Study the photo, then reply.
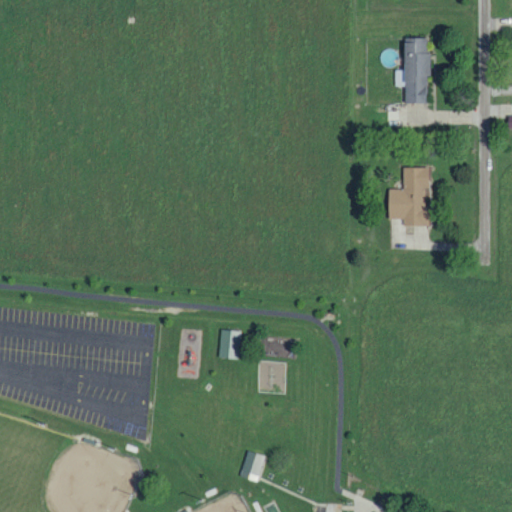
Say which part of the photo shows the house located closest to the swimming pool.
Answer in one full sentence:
The house located closest to the swimming pool sits in the top right section of the image.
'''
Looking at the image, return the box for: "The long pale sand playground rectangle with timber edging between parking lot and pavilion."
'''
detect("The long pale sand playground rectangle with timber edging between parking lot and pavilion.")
[177,329,203,379]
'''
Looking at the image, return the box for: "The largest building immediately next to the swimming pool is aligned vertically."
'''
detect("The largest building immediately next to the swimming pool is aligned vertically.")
[405,37,432,103]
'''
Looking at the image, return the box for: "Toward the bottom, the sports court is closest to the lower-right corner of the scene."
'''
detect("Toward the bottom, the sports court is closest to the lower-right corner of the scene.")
[258,361,288,394]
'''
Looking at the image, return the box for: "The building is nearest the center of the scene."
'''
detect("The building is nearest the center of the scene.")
[219,330,242,360]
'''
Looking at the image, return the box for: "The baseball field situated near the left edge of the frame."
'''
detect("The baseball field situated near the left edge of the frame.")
[0,413,141,512]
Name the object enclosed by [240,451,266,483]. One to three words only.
building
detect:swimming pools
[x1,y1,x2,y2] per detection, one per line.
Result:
[380,49,399,68]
